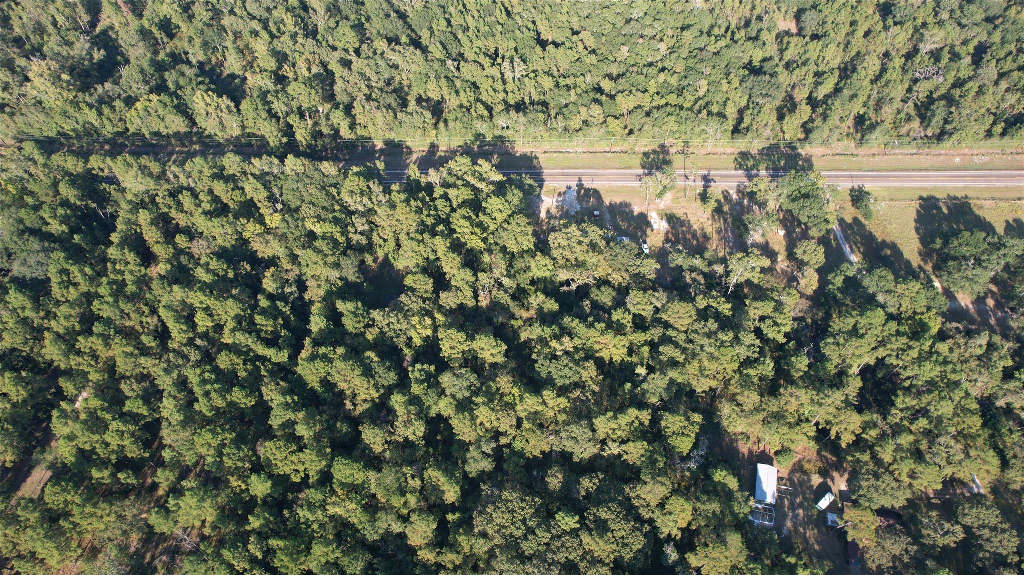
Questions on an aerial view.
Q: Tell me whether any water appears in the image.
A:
No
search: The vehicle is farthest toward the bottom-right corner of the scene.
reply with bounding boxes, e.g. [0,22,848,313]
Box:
[815,492,834,511]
